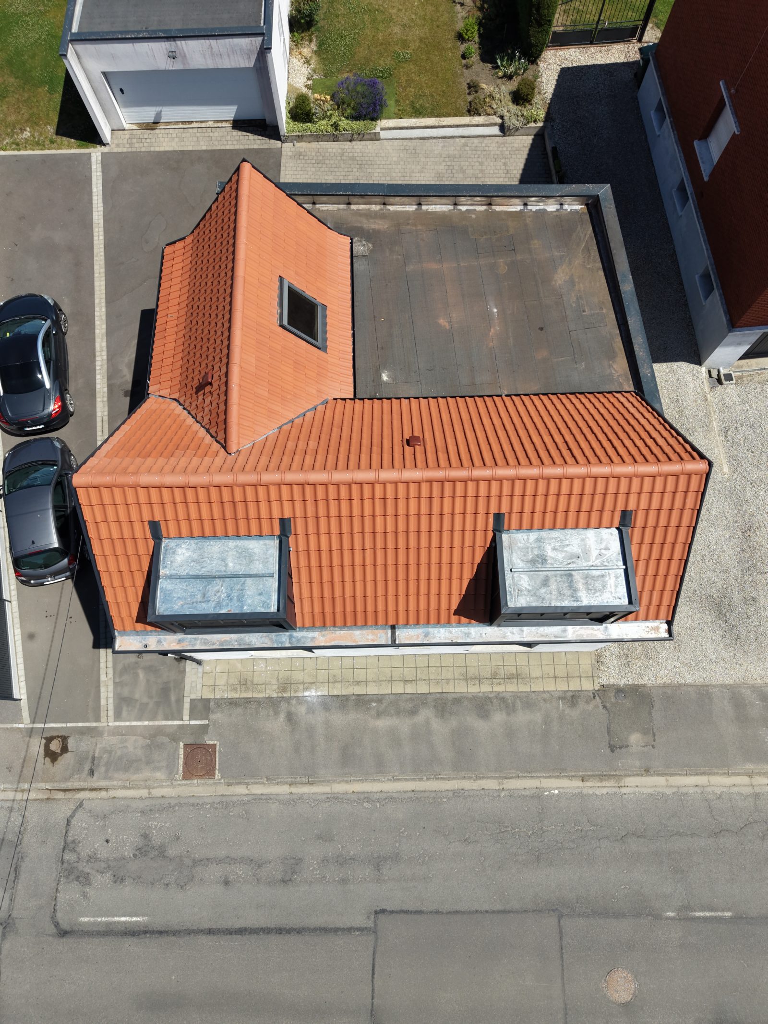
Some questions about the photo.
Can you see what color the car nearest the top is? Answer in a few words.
black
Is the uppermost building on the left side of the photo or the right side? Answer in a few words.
left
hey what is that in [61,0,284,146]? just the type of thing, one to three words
building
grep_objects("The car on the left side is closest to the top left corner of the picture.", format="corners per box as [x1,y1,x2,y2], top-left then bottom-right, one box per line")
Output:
[0,295,78,436]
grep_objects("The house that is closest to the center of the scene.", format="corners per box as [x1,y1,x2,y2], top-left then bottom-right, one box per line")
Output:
[68,154,716,665]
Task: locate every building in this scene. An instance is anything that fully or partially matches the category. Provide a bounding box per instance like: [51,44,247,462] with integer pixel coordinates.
[61,0,284,146]
[638,0,768,367]
[68,154,716,665]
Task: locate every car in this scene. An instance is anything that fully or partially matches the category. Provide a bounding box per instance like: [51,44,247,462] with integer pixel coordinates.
[0,437,90,589]
[0,295,78,436]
